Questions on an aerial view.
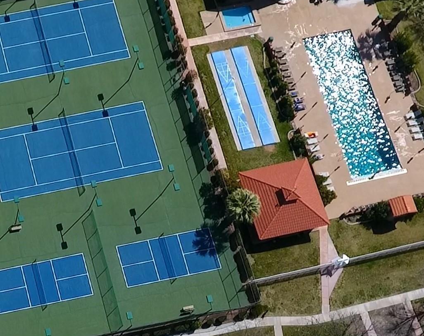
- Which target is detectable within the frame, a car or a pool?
pool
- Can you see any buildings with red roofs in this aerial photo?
Yes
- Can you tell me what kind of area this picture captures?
sports ground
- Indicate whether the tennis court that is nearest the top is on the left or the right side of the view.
left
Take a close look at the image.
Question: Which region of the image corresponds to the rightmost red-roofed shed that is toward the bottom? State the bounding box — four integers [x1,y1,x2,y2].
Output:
[383,195,418,221]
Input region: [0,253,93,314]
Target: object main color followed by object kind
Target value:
blue sports court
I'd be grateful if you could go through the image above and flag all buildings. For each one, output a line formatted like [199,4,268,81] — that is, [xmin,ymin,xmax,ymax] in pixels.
[383,195,418,221]
[238,159,331,240]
